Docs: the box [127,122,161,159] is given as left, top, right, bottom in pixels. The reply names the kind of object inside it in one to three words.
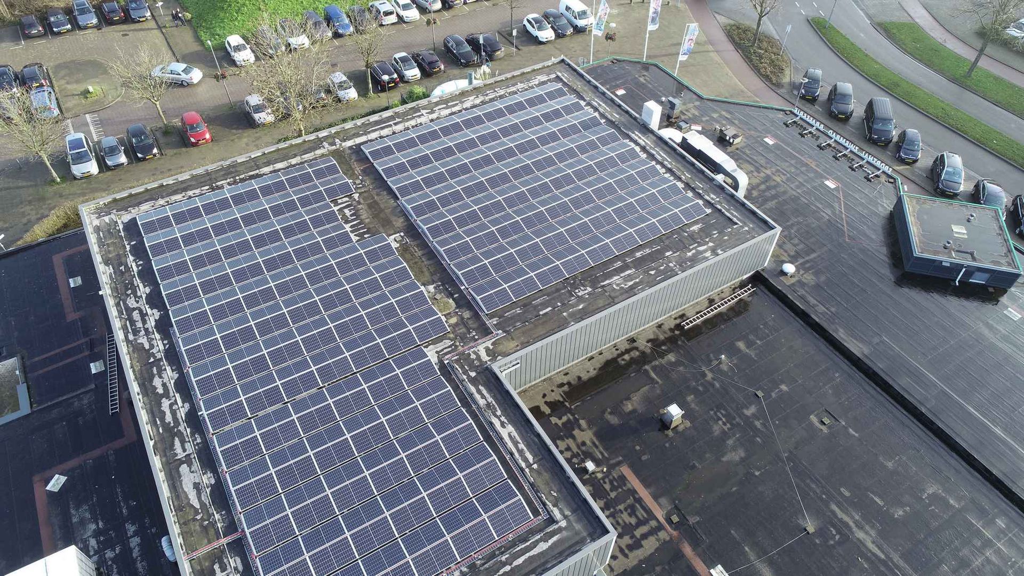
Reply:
car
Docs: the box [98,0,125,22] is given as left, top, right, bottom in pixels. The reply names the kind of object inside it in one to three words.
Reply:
car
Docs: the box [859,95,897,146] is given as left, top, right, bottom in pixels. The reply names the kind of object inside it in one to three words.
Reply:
vehicle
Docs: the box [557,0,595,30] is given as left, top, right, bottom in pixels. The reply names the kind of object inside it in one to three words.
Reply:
vehicle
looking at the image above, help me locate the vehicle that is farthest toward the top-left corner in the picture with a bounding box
[18,11,46,35]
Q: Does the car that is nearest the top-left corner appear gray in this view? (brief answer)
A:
Yes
